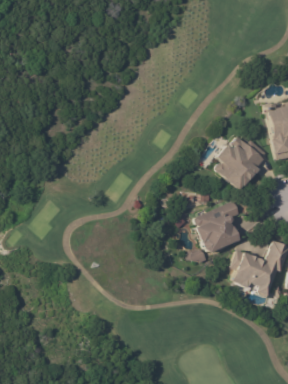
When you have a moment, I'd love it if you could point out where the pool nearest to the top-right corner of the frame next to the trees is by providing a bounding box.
[265,84,288,98]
